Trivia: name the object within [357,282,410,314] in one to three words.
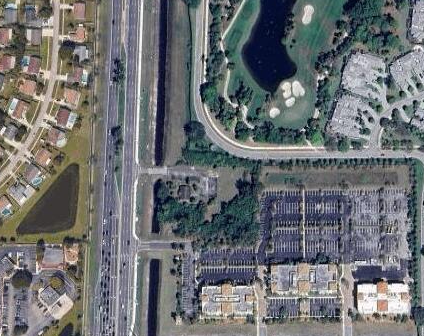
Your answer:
building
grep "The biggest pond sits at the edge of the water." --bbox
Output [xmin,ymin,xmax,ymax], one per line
[16,162,79,233]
